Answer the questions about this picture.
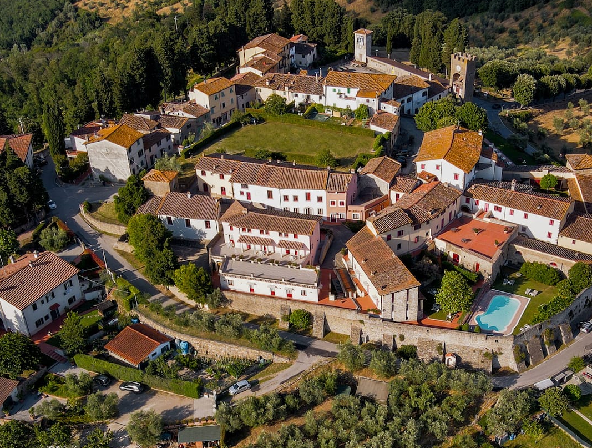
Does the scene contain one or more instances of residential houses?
Yes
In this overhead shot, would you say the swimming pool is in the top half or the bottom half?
bottom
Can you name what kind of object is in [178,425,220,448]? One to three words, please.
shed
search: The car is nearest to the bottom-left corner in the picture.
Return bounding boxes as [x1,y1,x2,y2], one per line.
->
[89,369,113,386]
